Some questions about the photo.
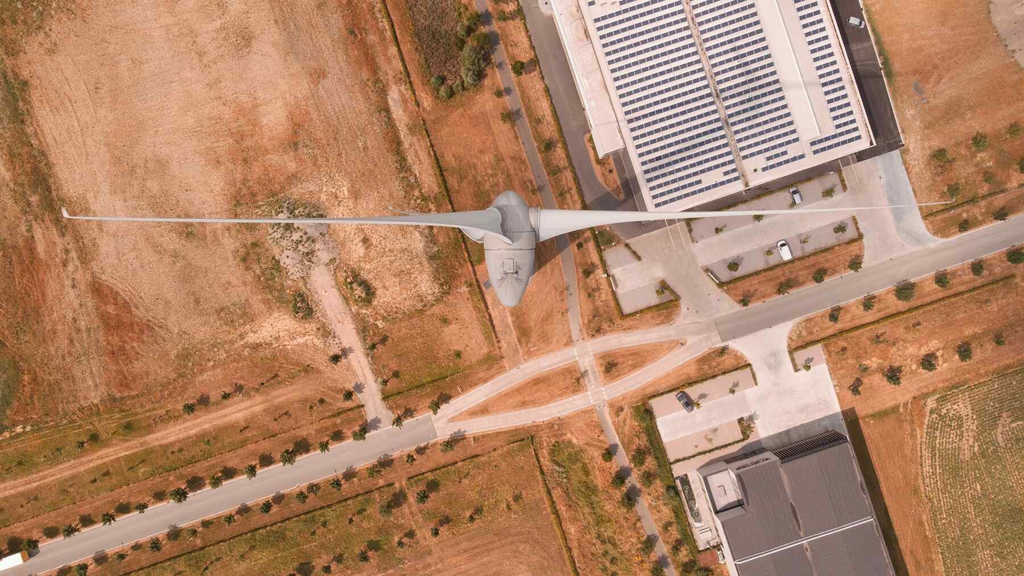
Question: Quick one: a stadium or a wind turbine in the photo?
wind turbine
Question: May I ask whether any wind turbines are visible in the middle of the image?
Yes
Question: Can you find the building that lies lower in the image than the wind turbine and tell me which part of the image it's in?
bottom right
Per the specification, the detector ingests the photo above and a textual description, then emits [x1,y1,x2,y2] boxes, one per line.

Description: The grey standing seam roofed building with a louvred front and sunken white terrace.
[696,431,893,576]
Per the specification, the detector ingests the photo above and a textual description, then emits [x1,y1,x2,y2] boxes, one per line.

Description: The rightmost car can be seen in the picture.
[845,15,866,30]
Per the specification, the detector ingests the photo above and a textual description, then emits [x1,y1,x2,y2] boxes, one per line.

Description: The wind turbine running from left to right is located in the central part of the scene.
[63,191,948,307]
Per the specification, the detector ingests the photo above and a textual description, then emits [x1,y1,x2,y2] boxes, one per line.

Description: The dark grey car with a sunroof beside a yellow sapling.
[676,390,694,413]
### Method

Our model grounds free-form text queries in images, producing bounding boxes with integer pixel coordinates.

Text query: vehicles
[676,390,694,413]
[788,185,803,207]
[777,239,793,262]
[845,15,866,30]
[0,548,40,572]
